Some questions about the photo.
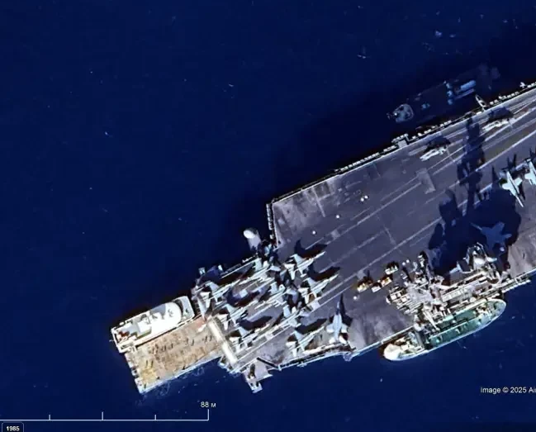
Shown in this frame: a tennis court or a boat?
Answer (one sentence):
I can see a boat in this picture.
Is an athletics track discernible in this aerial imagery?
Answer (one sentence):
No, there's no athletics track here.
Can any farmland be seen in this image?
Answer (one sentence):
No, there is no farmland in the image.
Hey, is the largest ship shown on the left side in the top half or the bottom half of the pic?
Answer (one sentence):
Seen from above, the largest ship shown on the left side lies in the bottom half of the view.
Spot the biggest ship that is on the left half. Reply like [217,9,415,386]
[125,317,219,394]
